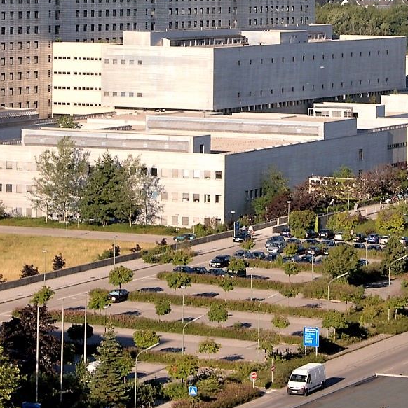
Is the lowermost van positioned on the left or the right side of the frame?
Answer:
right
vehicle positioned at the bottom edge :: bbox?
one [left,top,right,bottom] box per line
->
[288,362,327,394]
